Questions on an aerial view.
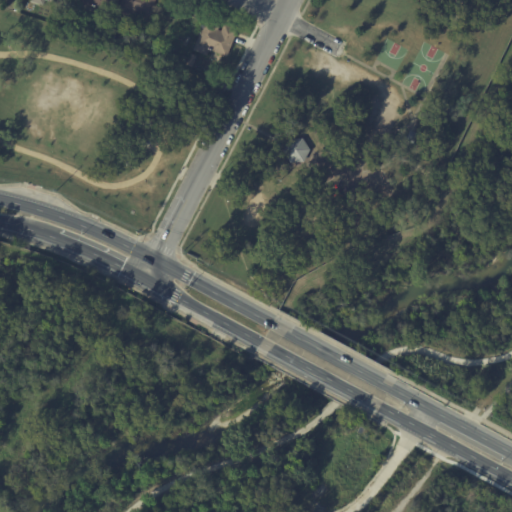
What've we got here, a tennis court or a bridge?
bridge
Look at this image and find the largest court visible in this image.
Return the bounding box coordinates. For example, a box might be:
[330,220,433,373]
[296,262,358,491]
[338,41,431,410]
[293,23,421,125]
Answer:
[404,42,445,94]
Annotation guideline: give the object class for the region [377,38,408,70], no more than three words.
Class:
basketball court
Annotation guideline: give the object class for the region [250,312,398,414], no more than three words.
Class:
bridge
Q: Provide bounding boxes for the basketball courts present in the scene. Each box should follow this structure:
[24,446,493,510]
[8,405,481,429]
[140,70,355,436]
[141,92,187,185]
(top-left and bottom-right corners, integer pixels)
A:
[377,38,408,70]
[404,42,445,94]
